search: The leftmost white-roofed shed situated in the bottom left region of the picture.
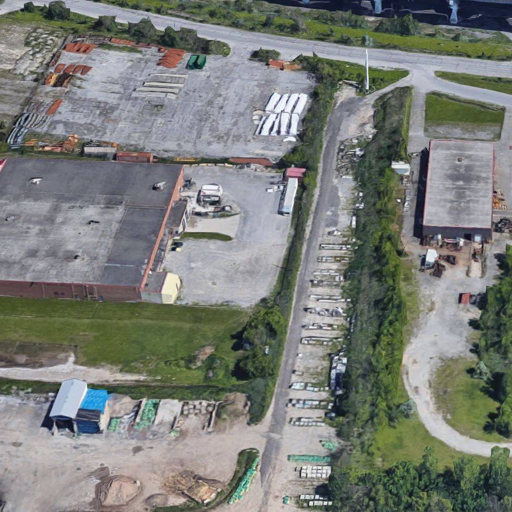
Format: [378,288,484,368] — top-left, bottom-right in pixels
[49,378,88,435]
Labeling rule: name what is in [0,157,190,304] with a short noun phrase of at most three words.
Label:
warehouse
